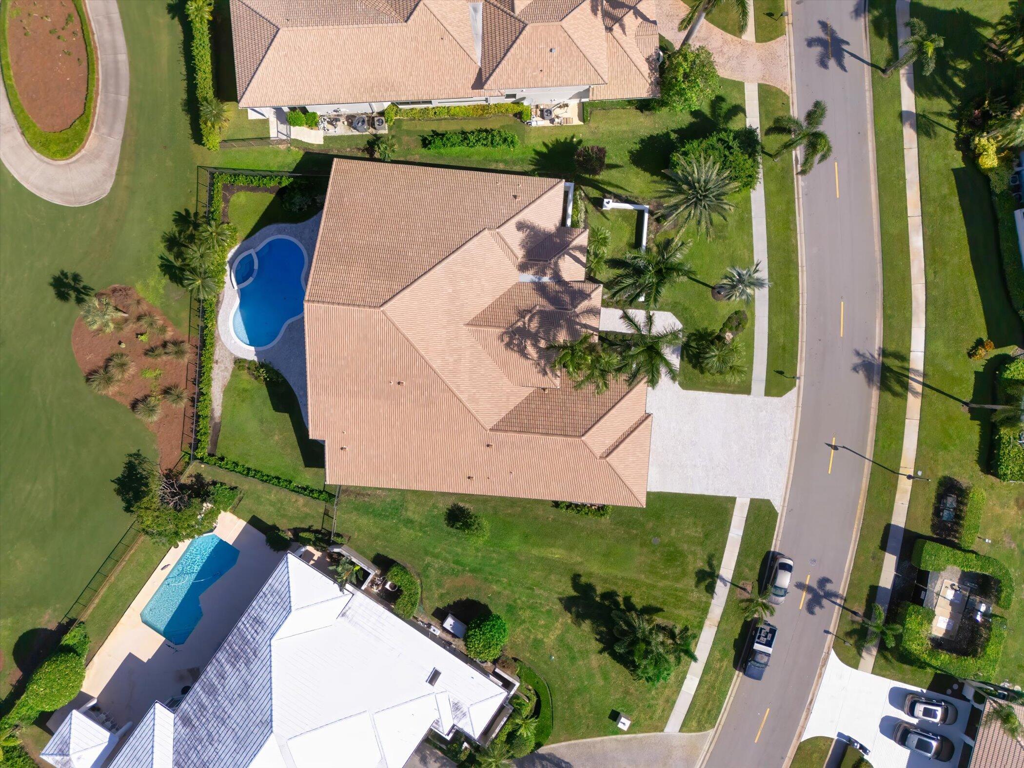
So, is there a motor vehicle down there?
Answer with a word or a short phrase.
Yes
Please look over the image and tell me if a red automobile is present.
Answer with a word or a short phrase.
No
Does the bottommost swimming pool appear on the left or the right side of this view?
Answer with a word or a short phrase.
left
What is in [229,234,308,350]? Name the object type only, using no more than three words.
swimming pool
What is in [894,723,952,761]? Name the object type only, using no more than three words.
car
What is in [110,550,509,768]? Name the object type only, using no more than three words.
house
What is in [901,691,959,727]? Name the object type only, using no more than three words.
car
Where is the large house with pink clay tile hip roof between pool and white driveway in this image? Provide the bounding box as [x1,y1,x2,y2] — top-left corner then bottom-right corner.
[302,157,653,509]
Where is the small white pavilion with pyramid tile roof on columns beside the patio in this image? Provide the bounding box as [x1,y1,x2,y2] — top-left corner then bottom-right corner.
[39,695,133,768]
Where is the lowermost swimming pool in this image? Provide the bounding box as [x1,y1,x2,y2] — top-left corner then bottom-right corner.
[137,531,244,648]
